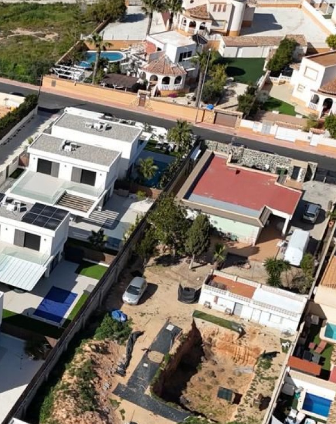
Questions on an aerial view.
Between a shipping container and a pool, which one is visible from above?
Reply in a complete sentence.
Visible in the photo is a pool.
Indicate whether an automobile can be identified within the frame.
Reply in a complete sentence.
Yes, an automobile appears in the view.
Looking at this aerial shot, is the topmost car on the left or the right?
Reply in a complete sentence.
The topmost car appears in the right half of the scene.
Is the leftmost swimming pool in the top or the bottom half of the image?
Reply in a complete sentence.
Seen from above, the leftmost swimming pool lies in the bottom half of the view.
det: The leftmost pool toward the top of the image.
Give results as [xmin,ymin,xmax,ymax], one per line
[73,50,128,70]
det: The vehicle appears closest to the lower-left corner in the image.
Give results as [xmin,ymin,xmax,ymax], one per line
[122,275,147,301]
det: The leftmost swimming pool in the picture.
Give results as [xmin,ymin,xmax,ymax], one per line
[29,283,81,326]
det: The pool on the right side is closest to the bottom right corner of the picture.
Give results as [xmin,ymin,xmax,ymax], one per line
[298,392,336,415]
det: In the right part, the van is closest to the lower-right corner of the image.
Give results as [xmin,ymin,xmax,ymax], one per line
[285,224,315,264]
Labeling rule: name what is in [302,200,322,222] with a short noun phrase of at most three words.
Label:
car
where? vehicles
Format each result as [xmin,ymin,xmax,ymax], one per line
[122,275,147,301]
[302,200,322,222]
[285,224,315,264]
